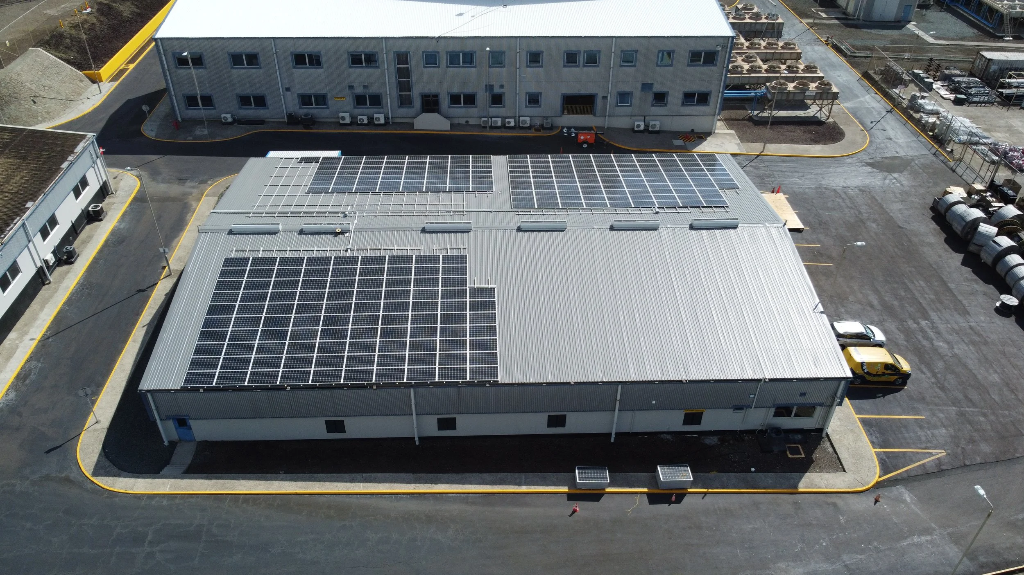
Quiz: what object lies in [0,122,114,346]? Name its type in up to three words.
building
